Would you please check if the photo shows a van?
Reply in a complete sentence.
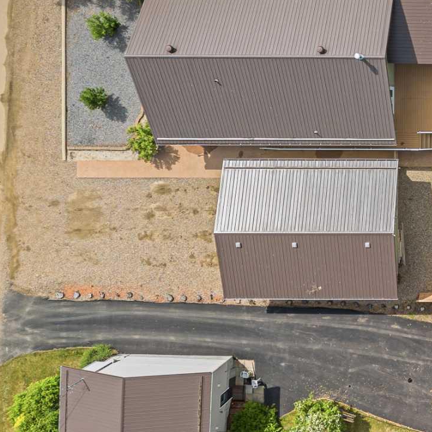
No, I find no van anywhere in the image.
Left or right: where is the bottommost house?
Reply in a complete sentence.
It is on the left.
